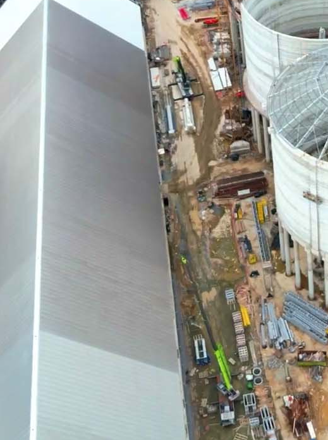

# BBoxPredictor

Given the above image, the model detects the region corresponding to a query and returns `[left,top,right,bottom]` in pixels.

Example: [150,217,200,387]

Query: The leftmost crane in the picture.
[167,52,205,98]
